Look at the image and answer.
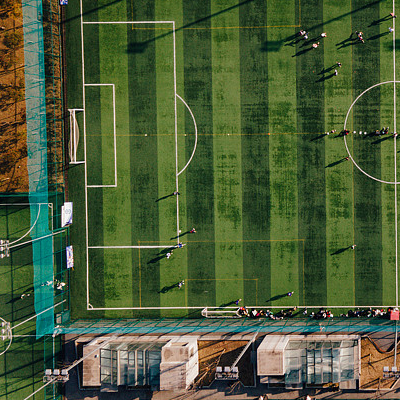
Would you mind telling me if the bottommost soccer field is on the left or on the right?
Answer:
left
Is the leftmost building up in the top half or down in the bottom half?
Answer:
bottom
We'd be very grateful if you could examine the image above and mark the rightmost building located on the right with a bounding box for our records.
[258,337,361,391]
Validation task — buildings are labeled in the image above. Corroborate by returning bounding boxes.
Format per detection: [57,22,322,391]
[258,337,361,391]
[83,337,198,395]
